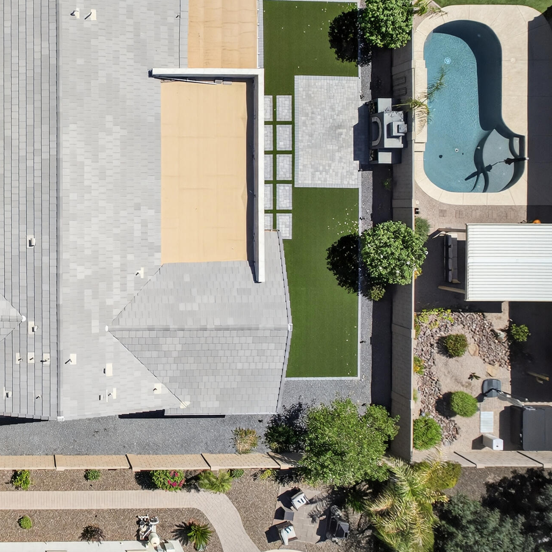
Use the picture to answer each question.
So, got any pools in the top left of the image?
No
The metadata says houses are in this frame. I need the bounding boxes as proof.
[0,0,293,424]
[0,543,181,552]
